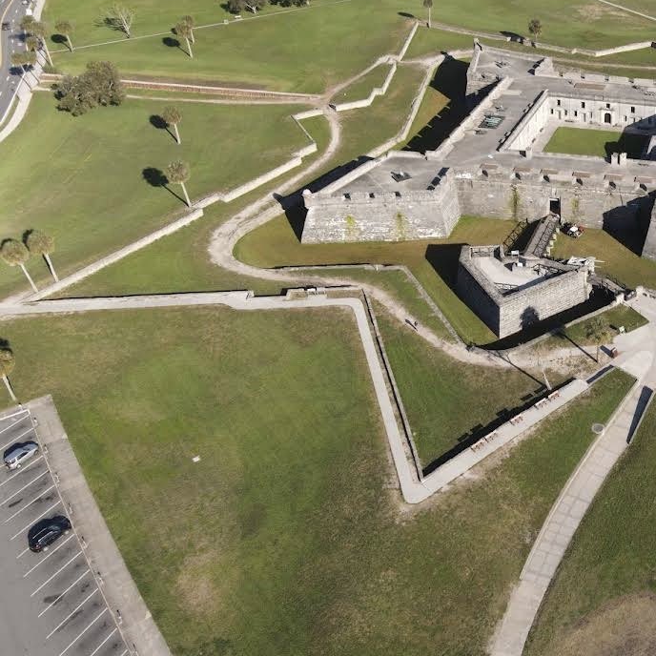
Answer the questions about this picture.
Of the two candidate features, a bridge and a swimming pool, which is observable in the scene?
bridge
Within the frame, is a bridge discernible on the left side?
No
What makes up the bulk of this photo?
grass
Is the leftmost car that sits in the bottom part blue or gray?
gray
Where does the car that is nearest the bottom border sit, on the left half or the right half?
left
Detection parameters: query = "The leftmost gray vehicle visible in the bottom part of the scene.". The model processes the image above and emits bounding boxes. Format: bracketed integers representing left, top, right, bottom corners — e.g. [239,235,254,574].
[0,444,40,468]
